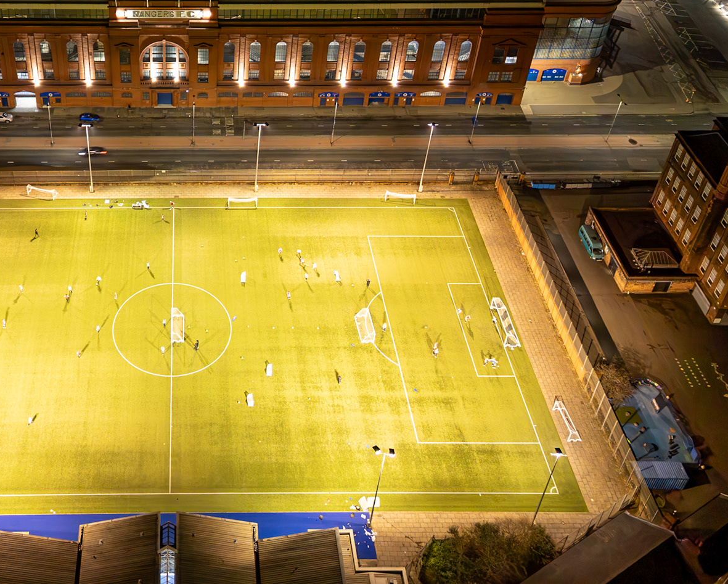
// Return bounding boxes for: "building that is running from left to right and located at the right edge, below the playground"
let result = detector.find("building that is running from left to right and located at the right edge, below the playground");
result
[528,508,697,584]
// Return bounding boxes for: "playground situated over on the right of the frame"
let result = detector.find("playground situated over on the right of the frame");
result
[611,405,646,428]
